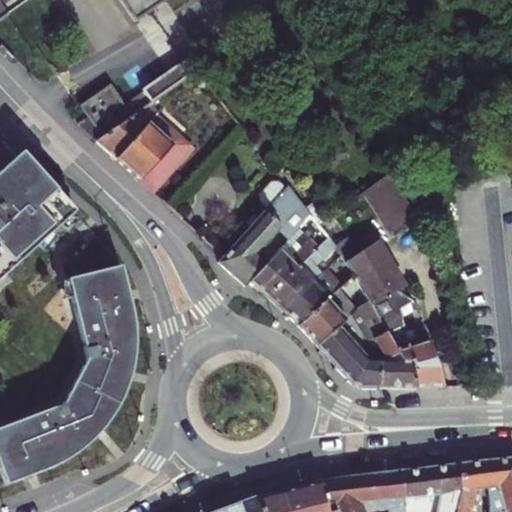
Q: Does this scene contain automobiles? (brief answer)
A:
Yes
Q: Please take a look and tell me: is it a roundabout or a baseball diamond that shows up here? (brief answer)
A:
roundabout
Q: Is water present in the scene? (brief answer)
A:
No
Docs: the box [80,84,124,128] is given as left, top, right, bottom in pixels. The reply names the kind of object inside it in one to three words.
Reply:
building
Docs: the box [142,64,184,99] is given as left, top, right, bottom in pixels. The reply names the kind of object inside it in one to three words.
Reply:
shed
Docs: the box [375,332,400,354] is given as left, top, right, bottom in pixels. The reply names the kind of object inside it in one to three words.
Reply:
house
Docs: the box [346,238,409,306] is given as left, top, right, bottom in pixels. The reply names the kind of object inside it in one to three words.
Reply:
barn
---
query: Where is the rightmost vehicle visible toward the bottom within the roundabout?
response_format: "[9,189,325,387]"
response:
[178,418,197,440]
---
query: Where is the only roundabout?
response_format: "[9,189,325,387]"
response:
[162,324,316,478]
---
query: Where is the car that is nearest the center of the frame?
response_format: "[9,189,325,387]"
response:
[146,219,164,240]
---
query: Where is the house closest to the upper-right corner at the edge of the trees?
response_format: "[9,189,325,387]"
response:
[362,176,409,234]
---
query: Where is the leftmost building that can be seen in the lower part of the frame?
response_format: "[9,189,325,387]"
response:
[0,264,140,484]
